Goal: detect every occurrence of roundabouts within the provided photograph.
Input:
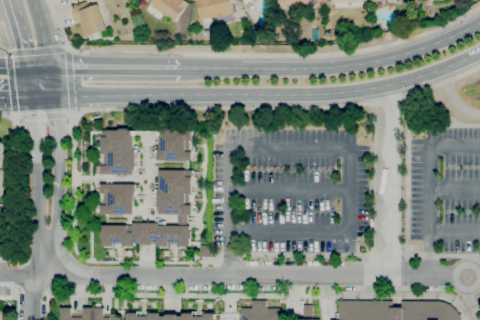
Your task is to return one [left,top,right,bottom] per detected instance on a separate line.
[452,262,480,294]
